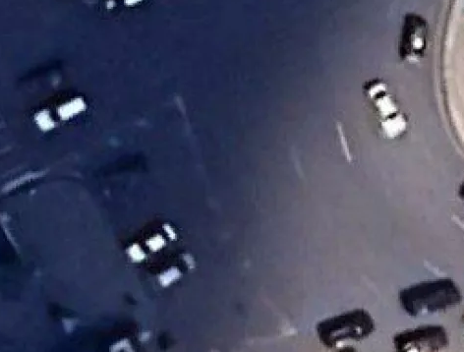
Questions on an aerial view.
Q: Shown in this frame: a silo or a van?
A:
van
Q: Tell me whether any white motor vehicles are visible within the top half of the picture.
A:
Yes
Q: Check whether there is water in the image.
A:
No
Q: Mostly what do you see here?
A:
paved ground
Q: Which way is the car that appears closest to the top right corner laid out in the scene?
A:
up and down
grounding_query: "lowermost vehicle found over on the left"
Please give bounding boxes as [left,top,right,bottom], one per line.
[149,252,193,285]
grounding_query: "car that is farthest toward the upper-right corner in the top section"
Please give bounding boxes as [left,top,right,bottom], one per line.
[401,16,425,61]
